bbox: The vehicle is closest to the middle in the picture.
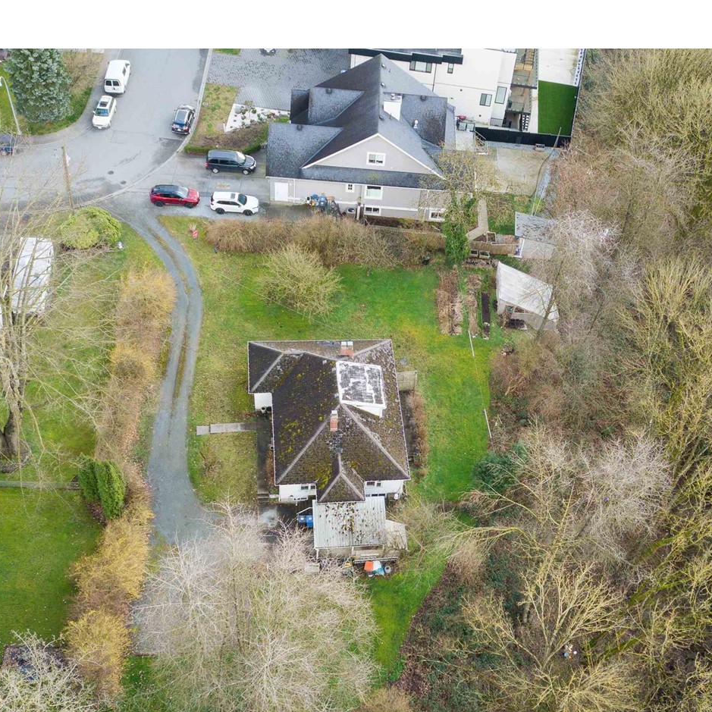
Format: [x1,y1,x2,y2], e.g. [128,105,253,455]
[209,191,259,217]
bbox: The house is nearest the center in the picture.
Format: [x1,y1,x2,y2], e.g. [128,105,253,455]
[246,340,409,513]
